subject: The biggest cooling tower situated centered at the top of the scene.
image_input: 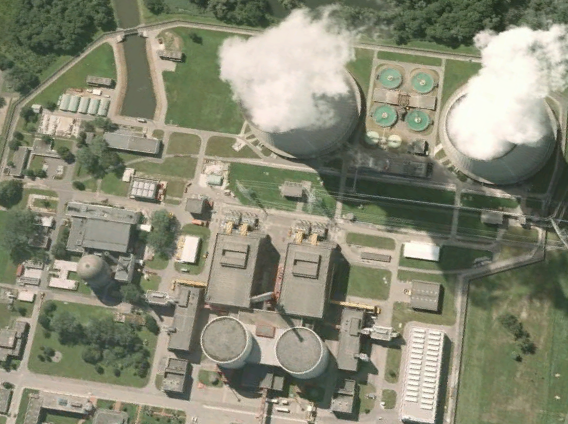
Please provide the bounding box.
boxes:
[245,44,359,157]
